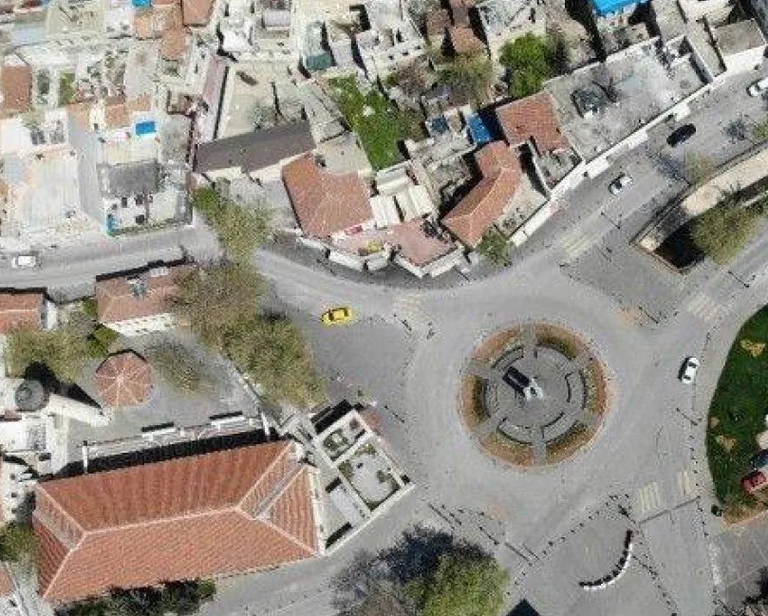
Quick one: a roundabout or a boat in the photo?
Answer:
roundabout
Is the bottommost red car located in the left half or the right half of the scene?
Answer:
right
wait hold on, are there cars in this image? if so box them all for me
[747,74,768,95]
[742,471,768,491]
[667,123,694,144]
[750,450,768,470]
[322,307,350,323]
[8,253,37,266]
[683,355,698,385]
[609,172,633,192]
